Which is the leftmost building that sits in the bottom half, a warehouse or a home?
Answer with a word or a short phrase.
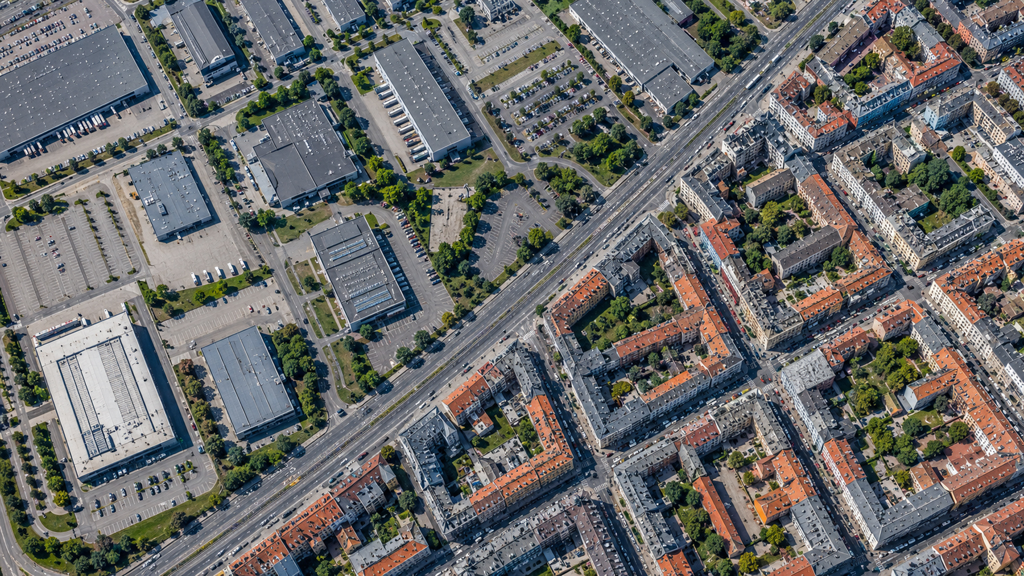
warehouse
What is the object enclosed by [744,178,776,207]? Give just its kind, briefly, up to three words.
house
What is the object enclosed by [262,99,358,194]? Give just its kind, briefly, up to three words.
building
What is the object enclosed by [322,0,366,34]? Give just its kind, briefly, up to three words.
building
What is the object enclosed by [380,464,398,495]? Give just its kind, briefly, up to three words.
house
